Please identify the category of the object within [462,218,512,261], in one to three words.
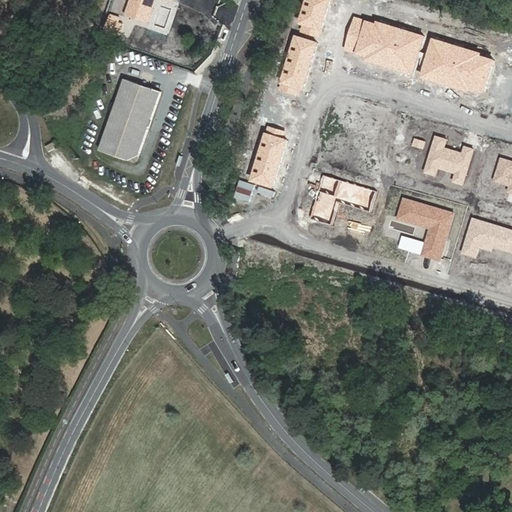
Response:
house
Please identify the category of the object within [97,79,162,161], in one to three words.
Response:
building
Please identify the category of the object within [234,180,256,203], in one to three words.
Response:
shed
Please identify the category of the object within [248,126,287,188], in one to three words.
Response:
house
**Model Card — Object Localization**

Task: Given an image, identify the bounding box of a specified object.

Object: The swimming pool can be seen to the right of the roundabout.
[390,220,415,234]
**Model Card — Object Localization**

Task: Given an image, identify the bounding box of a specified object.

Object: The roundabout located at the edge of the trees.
[112,184,223,326]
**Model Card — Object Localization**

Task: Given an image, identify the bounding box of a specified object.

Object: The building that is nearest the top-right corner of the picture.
[420,38,495,93]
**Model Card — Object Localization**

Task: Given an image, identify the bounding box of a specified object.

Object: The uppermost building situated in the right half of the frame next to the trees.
[297,0,330,37]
